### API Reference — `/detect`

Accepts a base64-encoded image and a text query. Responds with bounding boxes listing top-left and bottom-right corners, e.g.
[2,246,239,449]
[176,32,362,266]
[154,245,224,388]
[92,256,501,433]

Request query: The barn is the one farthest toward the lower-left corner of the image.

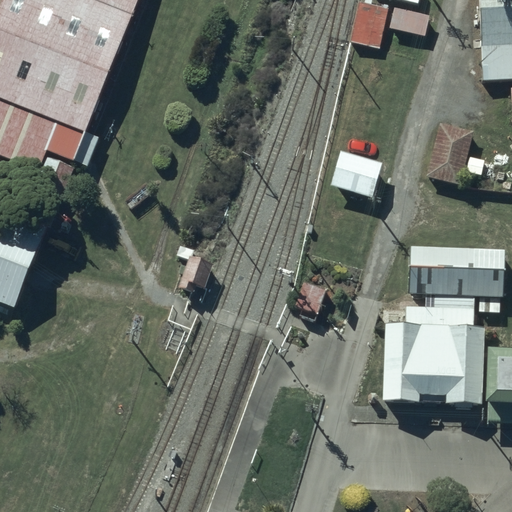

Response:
[0,220,42,319]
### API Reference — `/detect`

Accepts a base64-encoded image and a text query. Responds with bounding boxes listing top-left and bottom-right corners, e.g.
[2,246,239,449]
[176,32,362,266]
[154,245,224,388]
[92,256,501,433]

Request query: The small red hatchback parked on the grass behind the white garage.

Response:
[348,141,378,157]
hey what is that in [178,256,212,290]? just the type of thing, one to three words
house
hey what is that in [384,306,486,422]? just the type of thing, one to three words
building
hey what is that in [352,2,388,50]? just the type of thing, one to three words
shed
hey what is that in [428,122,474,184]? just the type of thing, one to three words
house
